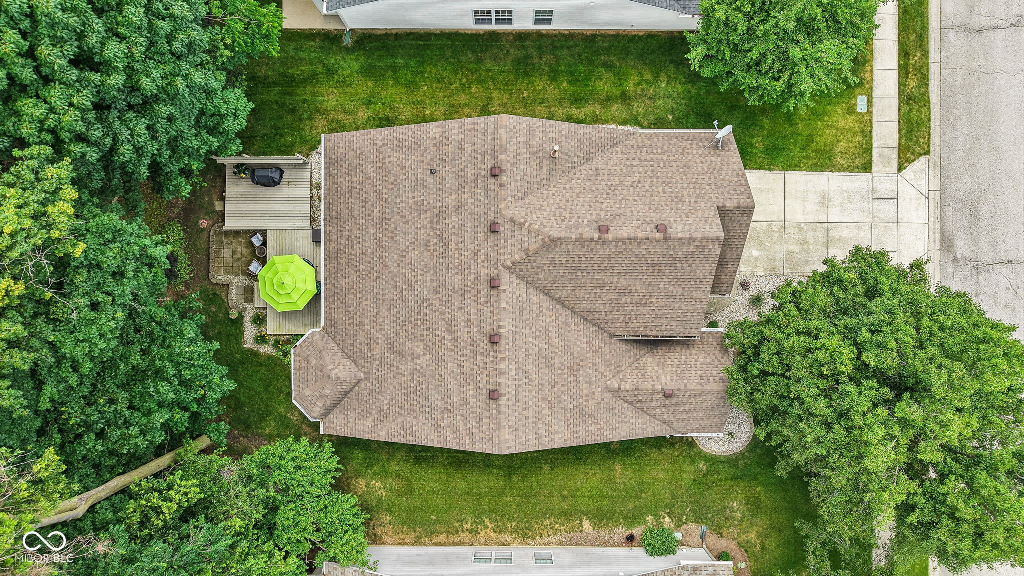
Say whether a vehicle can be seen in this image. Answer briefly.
No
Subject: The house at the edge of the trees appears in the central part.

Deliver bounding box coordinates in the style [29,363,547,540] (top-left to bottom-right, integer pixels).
[290,114,753,454]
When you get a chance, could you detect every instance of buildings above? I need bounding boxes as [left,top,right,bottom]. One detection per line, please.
[322,526,736,576]
[290,114,753,454]
[322,0,736,36]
